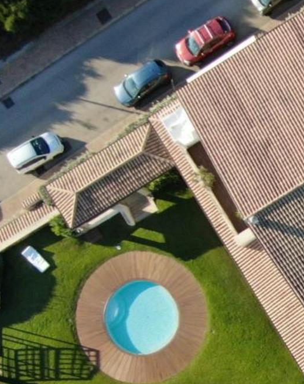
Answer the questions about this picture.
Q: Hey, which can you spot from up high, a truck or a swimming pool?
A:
swimming pool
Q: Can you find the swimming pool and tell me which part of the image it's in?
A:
bottom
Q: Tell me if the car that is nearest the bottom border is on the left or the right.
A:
left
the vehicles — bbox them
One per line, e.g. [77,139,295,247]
[113,55,176,111]
[174,13,241,70]
[0,130,69,178]
[249,0,298,19]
